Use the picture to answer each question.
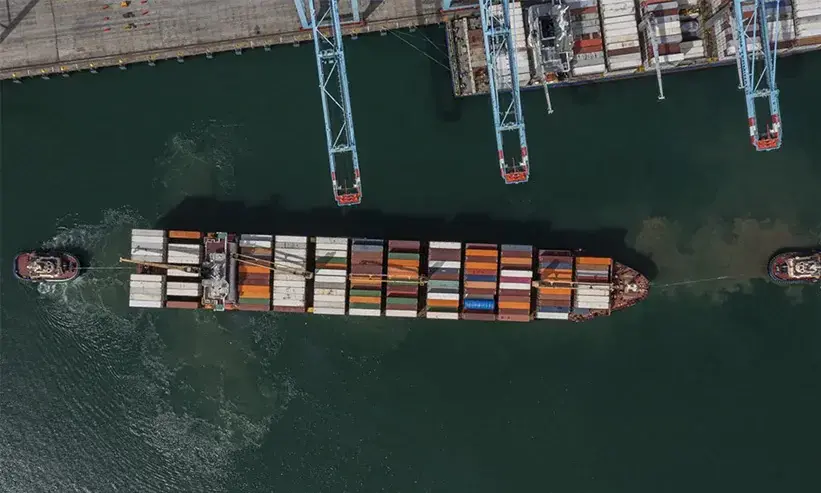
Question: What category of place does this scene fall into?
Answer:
port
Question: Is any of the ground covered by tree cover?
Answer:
No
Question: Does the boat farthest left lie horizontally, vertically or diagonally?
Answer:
horizontally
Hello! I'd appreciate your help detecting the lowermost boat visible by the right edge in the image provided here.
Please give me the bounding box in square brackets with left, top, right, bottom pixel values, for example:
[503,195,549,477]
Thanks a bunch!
[766,251,821,283]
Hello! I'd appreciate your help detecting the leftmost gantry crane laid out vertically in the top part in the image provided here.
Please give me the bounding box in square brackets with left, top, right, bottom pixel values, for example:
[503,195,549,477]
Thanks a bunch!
[292,0,368,208]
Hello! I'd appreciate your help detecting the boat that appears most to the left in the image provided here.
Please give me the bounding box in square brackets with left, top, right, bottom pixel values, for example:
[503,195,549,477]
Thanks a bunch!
[11,251,83,282]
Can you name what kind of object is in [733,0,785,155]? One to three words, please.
container crane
